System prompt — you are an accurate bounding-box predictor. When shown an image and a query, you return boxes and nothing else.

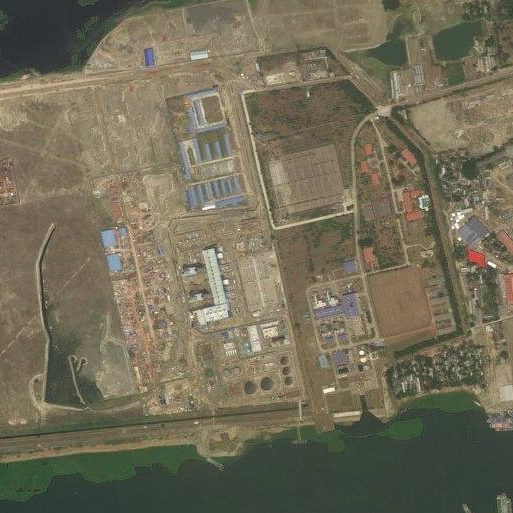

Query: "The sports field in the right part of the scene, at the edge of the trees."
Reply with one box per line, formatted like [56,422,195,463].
[369,267,433,340]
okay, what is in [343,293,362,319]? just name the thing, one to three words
building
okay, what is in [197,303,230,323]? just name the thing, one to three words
building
